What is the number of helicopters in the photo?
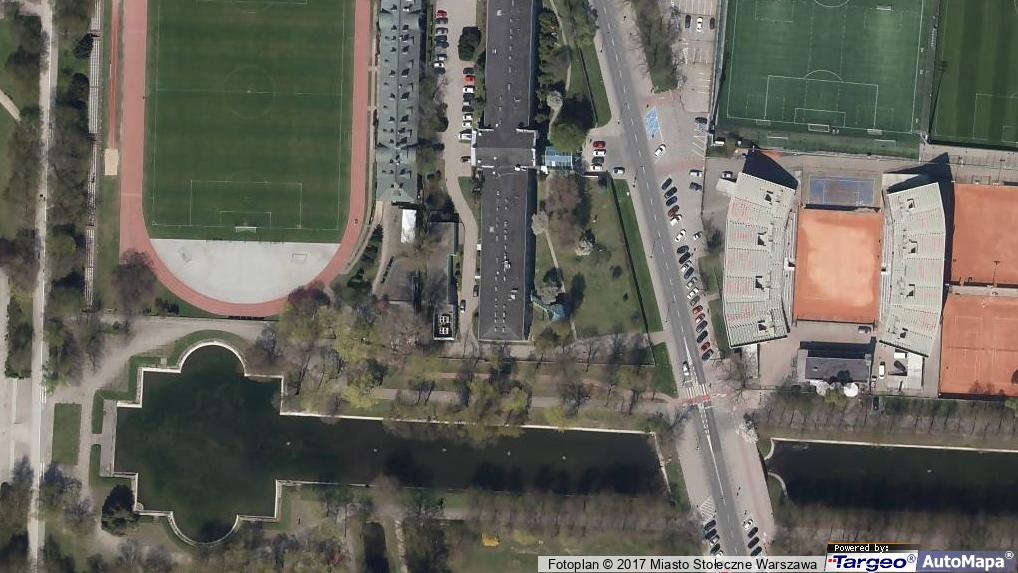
0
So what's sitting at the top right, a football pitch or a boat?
football pitch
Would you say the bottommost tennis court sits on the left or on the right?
right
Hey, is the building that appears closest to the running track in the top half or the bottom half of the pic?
top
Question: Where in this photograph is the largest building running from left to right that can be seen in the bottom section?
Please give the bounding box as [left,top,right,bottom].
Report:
[795,350,872,383]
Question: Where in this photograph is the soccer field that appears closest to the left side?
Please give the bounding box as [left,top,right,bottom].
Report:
[142,0,354,242]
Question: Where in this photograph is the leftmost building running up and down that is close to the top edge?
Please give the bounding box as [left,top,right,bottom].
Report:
[376,0,422,203]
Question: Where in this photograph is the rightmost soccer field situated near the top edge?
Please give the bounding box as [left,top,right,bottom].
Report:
[933,0,1018,145]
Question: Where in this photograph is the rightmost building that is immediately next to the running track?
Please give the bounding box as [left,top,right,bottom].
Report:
[470,0,537,342]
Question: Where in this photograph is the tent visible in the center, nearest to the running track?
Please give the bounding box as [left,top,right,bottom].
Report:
[402,210,417,243]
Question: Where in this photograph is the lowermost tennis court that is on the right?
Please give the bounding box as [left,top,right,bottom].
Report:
[939,295,1018,396]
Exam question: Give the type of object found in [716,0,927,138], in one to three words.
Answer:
soccer field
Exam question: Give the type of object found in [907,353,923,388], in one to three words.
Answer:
shed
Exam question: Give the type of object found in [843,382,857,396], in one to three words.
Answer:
umbrella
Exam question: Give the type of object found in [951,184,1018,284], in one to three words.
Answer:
tennis court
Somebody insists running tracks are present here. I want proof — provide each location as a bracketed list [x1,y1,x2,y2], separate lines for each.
[119,0,369,316]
